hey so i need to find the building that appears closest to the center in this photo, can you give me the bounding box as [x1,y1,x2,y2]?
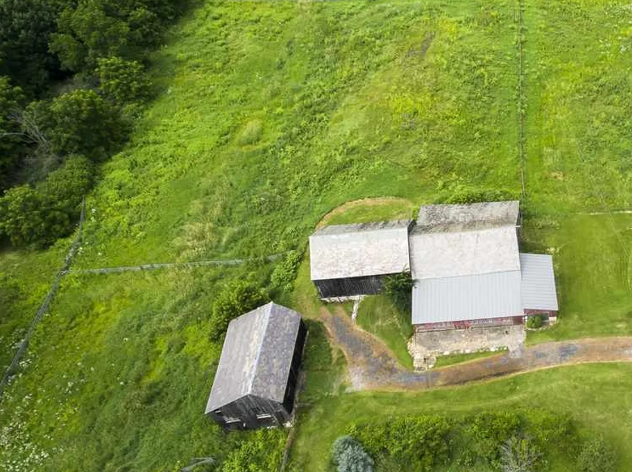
[310,219,412,303]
